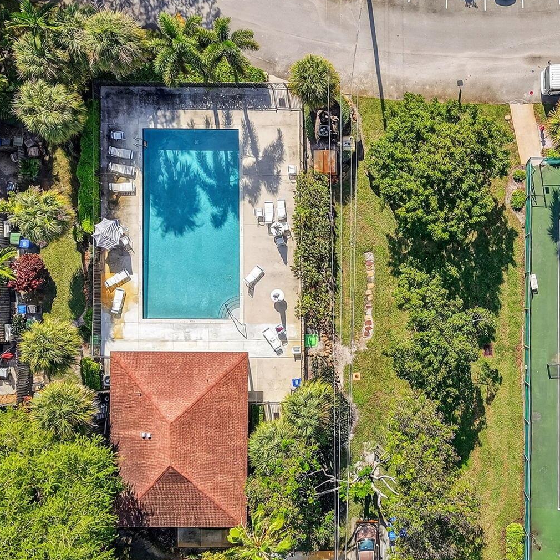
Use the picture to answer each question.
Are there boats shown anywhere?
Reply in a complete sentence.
No, no boat can be seen from above.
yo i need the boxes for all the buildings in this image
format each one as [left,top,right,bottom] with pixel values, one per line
[314,149,339,177]
[109,350,250,529]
